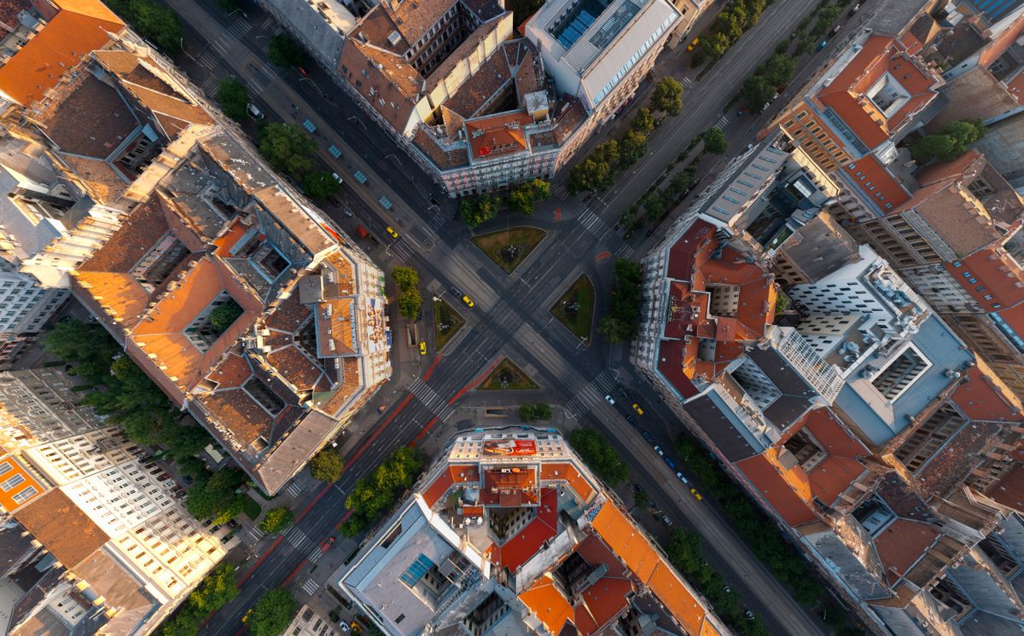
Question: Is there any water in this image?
No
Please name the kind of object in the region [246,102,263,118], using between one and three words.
vehicle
